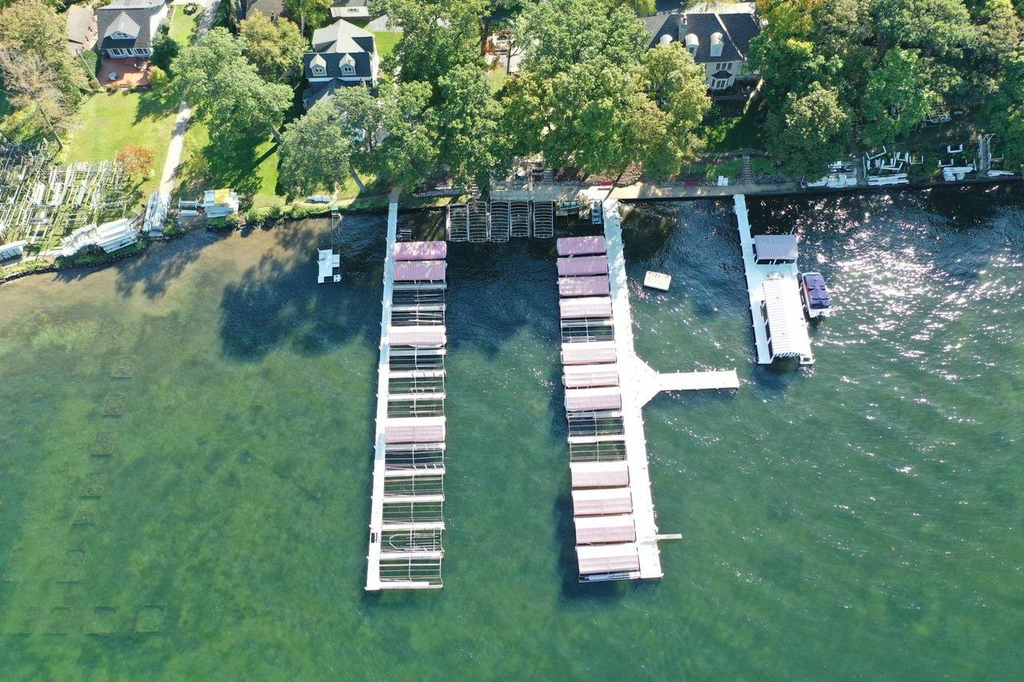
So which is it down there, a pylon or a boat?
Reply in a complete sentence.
The image shows a boat.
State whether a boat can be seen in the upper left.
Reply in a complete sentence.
No, in the upper left there is no boat.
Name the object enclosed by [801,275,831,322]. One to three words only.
boat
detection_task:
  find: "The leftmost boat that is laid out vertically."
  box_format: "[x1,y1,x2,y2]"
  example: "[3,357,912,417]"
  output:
[590,199,604,227]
